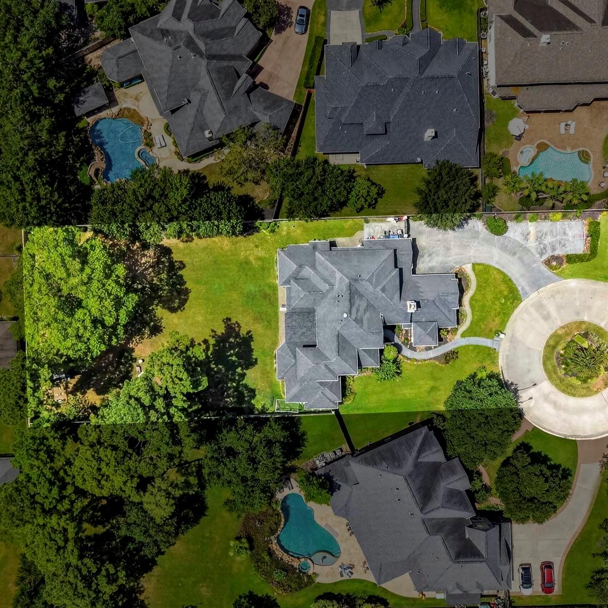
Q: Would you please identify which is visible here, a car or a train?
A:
car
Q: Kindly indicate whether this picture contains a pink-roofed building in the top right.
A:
No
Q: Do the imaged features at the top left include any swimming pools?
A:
Yes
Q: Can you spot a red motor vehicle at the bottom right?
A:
Yes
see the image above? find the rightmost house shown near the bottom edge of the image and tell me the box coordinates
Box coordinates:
[315,427,512,606]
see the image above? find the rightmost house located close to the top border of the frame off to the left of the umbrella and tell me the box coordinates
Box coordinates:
[317,17,480,168]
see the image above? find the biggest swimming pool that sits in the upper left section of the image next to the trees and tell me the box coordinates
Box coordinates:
[87,116,150,182]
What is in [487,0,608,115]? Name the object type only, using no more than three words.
house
